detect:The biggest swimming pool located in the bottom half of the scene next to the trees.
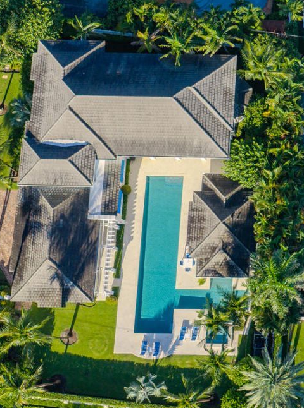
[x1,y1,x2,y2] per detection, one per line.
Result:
[131,174,249,337]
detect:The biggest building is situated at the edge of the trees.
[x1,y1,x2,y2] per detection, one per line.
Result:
[8,39,240,308]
